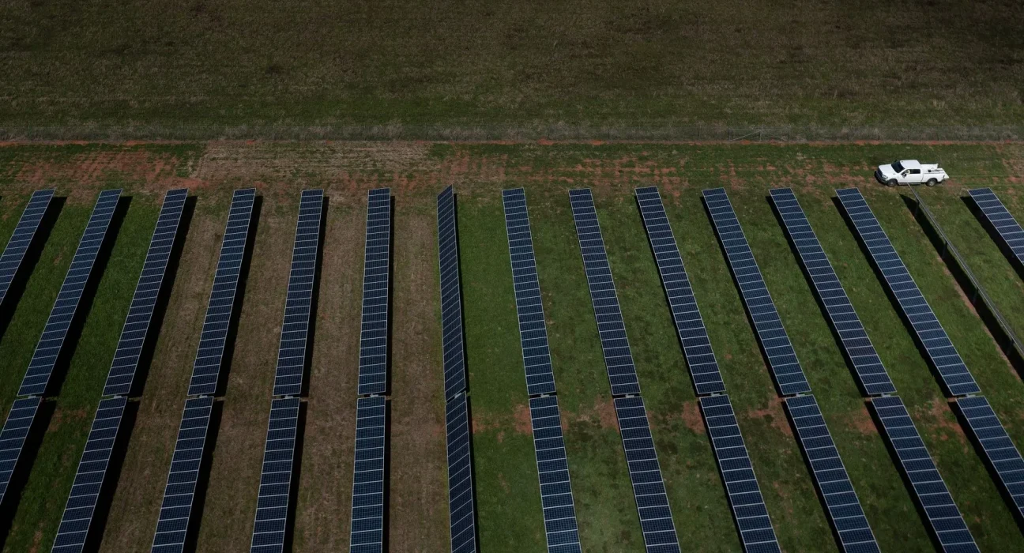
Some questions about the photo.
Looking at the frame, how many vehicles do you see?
one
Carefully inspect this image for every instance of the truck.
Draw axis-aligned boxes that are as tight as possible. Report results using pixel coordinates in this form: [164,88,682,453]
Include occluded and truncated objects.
[875,159,948,186]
